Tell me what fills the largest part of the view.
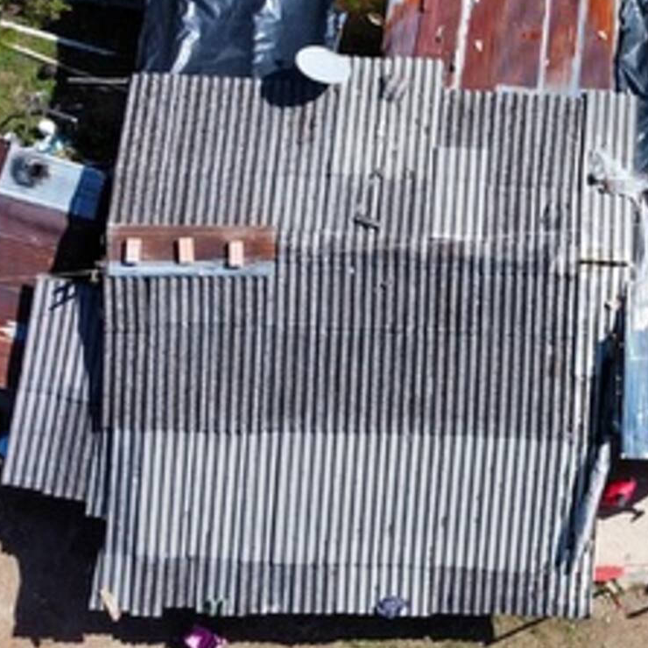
buildings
